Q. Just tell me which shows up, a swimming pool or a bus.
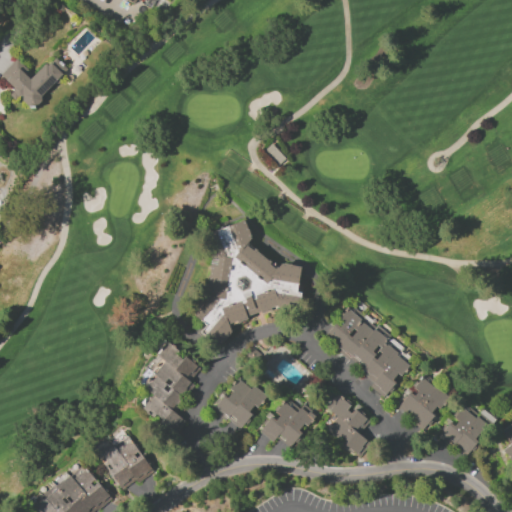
swimming pool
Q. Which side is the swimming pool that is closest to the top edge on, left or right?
left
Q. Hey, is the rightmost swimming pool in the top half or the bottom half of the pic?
bottom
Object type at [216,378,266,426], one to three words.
house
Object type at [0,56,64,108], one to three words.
house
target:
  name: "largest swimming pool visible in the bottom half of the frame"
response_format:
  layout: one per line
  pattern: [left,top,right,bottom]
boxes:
[260,344,315,391]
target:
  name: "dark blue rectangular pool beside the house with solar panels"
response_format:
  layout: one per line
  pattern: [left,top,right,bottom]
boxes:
[68,28,102,77]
